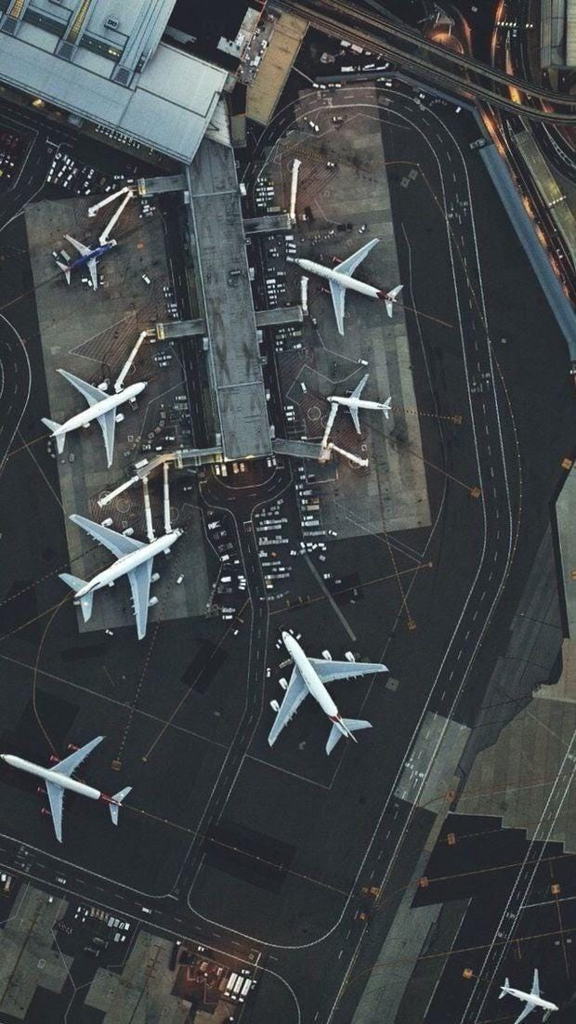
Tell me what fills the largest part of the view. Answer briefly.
paved ground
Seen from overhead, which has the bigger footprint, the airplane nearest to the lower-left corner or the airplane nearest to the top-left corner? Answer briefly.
the airplane nearest to the lower-left corner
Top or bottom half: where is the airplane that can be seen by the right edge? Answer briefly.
bottom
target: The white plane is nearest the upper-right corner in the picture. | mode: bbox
[294,237,405,336]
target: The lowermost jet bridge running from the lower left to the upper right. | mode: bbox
[93,472,142,509]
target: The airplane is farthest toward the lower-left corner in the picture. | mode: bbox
[1,736,133,845]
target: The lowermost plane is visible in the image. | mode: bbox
[498,967,558,1024]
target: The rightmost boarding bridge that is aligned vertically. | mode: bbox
[324,398,338,441]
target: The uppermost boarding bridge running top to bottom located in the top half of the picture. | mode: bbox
[289,153,303,225]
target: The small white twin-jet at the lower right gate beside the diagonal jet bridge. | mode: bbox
[328,373,391,436]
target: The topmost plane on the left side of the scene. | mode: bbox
[56,235,117,294]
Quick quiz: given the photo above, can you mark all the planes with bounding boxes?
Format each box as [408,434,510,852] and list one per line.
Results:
[40,369,147,468]
[328,373,391,436]
[270,631,392,757]
[498,967,558,1024]
[1,736,133,845]
[56,235,117,294]
[294,237,405,336]
[57,514,183,642]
